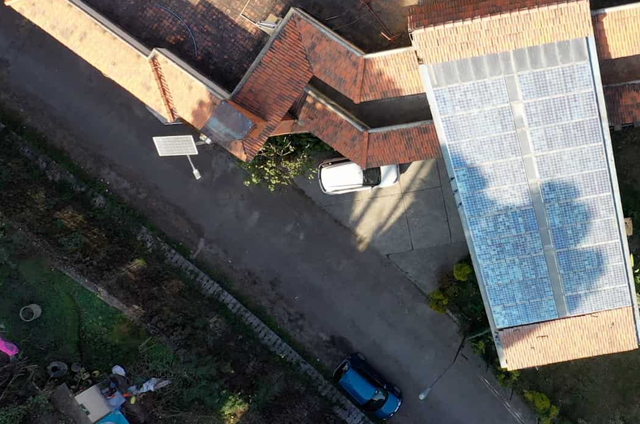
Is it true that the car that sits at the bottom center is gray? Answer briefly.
No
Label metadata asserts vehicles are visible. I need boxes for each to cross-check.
[334,352,405,423]
[318,161,399,197]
